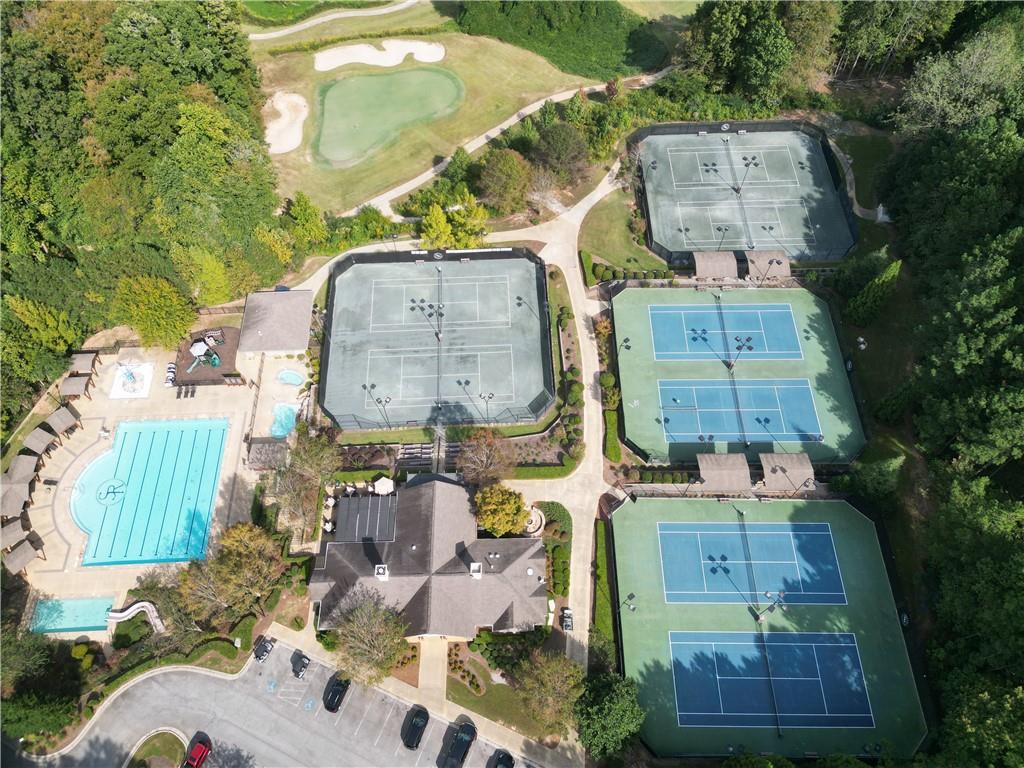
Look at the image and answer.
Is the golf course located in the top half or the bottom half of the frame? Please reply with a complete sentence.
The golf course sits in the top half of the picture.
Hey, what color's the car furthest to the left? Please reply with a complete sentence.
The car furthest to the left looks red in the image.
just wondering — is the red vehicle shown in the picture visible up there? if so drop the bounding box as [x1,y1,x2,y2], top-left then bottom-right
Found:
[178,739,211,768]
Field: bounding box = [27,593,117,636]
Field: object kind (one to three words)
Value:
swimming pool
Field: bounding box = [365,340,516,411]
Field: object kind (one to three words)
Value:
tennis court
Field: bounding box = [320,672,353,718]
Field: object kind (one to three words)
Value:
car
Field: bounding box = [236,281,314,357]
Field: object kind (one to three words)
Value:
building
